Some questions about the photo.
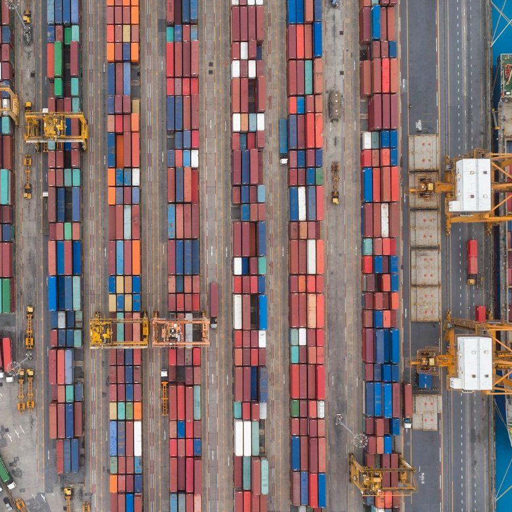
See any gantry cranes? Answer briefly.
Yes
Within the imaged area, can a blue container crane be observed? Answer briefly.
No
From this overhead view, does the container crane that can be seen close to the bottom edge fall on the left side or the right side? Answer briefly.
right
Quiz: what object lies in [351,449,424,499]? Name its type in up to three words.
container crane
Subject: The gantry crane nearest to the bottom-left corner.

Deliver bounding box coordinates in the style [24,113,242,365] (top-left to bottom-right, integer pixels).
[88,309,152,350]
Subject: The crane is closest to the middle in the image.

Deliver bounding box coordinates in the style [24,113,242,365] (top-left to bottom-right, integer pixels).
[152,309,212,350]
